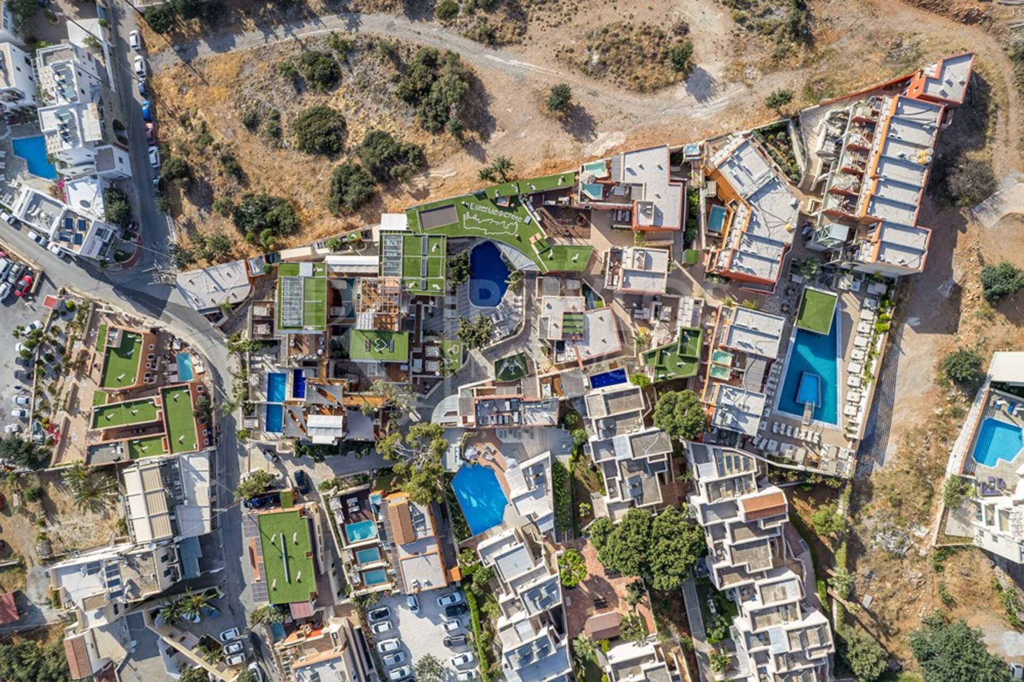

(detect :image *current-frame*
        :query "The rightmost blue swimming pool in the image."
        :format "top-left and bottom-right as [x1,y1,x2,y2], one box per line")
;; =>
[970,416,1024,470]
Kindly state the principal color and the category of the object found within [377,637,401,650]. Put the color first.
white vehicle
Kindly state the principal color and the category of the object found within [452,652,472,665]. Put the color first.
white vehicle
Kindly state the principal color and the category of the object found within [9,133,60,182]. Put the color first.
blue swimming pool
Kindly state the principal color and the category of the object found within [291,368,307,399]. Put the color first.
blue swimming pool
